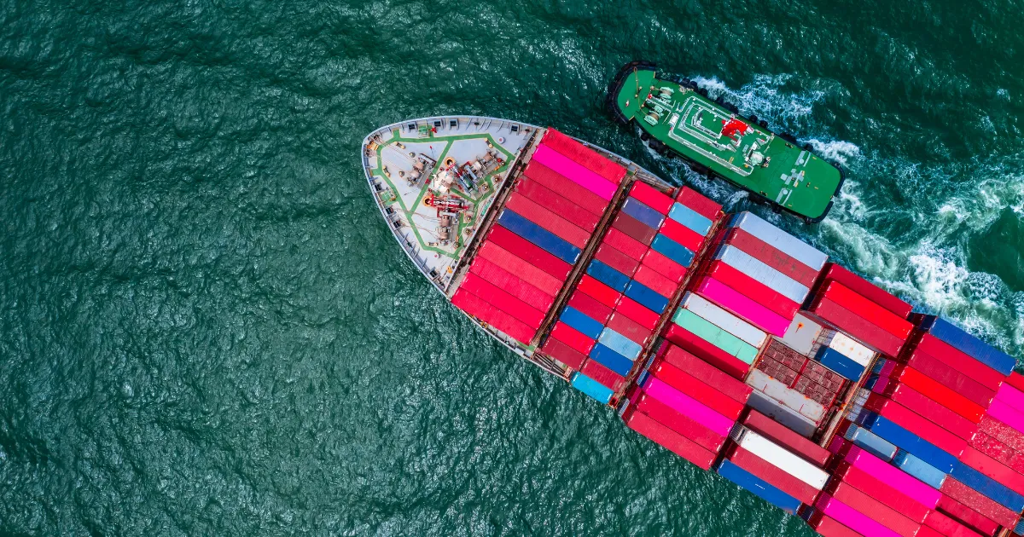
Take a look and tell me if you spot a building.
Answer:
No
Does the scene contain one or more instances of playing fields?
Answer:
No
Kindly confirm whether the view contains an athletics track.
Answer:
No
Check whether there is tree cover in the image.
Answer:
No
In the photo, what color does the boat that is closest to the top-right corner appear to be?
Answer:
green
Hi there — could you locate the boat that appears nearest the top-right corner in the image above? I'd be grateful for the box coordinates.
[605,58,846,227]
